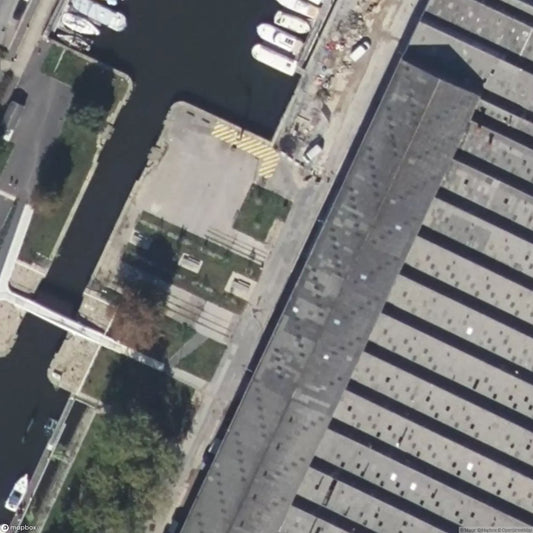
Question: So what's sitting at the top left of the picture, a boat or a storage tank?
boat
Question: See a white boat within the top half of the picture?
Yes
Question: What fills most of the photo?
buildings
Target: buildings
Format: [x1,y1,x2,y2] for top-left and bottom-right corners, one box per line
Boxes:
[176,0,533,533]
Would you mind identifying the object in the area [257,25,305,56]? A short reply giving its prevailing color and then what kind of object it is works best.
white boat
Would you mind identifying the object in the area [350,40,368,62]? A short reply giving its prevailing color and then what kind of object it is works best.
white vehicle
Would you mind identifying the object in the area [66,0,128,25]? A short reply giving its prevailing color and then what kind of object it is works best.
white ship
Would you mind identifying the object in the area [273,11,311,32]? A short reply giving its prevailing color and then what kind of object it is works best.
white boat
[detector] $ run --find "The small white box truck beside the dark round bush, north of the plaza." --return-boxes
[302,143,323,163]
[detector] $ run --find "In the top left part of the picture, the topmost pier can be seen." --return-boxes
[46,0,71,34]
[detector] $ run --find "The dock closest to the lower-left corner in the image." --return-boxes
[4,445,54,533]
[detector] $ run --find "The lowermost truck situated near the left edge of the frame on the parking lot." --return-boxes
[2,100,24,139]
